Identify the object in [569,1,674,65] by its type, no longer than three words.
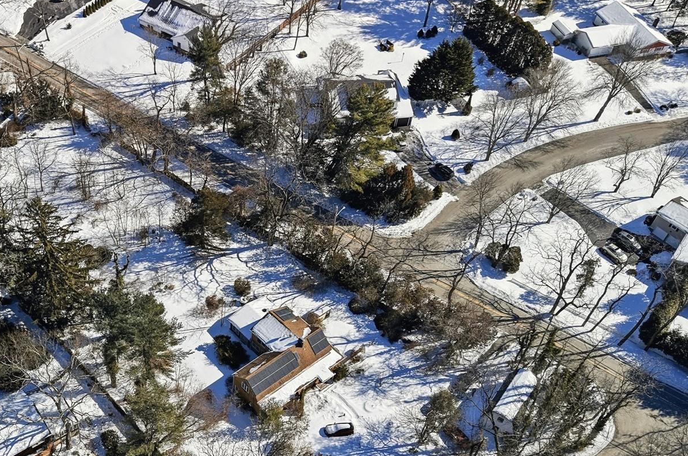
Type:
house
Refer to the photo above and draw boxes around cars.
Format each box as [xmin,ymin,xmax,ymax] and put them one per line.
[324,422,356,438]
[396,136,413,152]
[602,239,627,261]
[429,163,454,176]
[620,227,643,249]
